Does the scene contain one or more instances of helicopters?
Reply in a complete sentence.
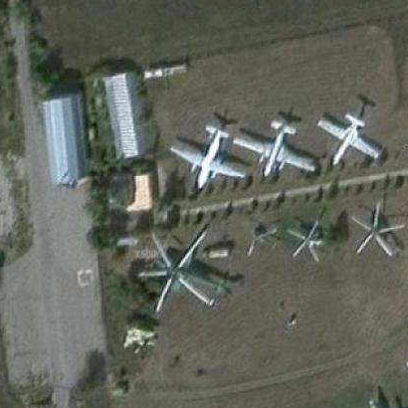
Yes, a helicopter appears in the view.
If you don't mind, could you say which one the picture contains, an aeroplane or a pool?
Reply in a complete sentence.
The image shows an aeroplane.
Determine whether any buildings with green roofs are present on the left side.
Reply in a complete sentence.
No, there is no building with a green roof on the left side.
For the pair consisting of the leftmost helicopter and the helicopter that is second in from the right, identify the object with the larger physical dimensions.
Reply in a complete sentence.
The leftmost helicopter takes up more space than the helicopter that is second in from the right does.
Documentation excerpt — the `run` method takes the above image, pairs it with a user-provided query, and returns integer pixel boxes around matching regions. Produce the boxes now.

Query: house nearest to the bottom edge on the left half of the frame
[127,174,158,216]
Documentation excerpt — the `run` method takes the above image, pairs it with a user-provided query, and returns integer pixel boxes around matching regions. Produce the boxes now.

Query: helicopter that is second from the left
[245,222,278,255]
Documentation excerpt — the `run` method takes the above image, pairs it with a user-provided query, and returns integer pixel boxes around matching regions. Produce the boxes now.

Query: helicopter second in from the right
[290,220,334,263]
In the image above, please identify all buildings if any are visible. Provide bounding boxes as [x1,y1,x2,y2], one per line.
[102,71,154,161]
[127,174,158,216]
[42,93,93,186]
